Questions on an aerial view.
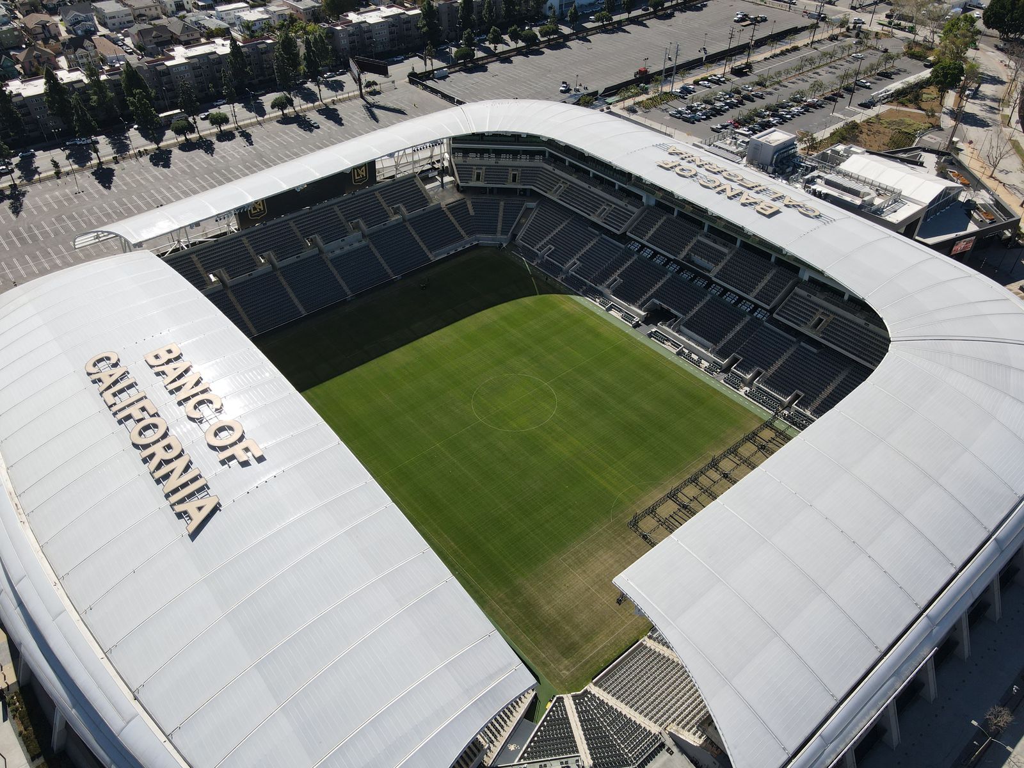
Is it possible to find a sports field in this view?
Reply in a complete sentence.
Yes, this view includes a sports field.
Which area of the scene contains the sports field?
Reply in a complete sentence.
The sports field is located in the center region of the scene.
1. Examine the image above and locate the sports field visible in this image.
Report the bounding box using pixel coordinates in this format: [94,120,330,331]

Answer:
[246,244,795,687]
